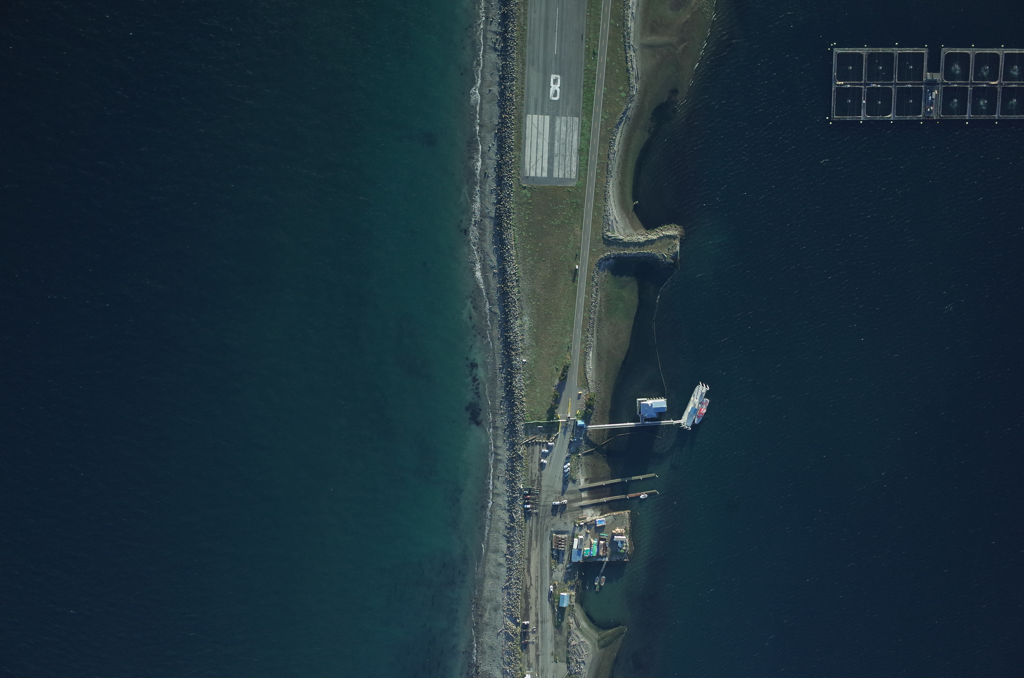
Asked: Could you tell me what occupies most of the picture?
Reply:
water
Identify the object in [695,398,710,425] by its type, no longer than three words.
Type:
boat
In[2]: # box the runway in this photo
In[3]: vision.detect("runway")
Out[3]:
[521,0,587,186]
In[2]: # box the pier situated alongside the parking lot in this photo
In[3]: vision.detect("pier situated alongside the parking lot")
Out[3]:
[585,419,675,431]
